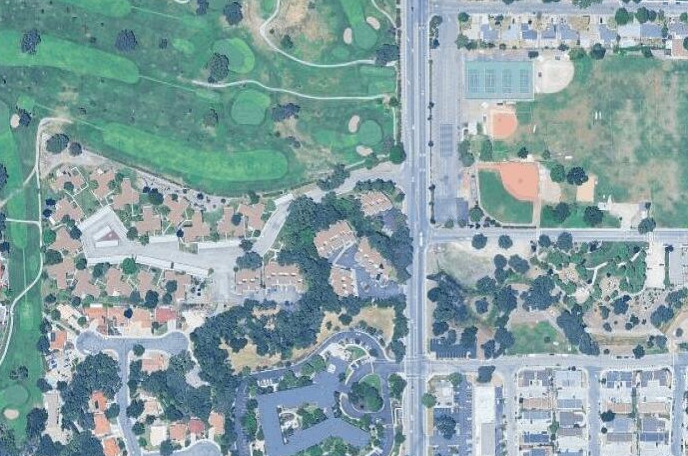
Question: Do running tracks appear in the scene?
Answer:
No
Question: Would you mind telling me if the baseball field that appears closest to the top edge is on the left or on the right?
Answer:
right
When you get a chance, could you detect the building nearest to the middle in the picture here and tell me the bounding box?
[314,220,357,254]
